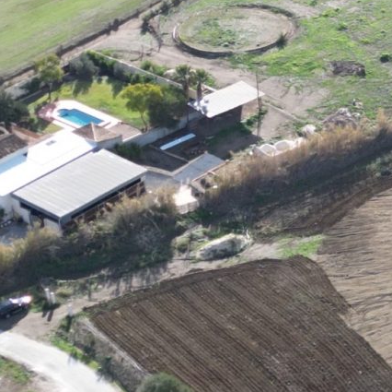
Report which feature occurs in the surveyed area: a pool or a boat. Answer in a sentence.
Visible in the photo is a pool.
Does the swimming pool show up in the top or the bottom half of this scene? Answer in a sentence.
The top half of the photo is where the swimming pool is.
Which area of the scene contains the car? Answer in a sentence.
The car is in the bottom left part of the image.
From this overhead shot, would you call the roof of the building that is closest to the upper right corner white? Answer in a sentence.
Yes, the roof of the building that is closest to the upper right corner appears white.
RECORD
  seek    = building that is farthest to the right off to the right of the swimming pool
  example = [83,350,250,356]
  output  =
[181,77,271,141]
